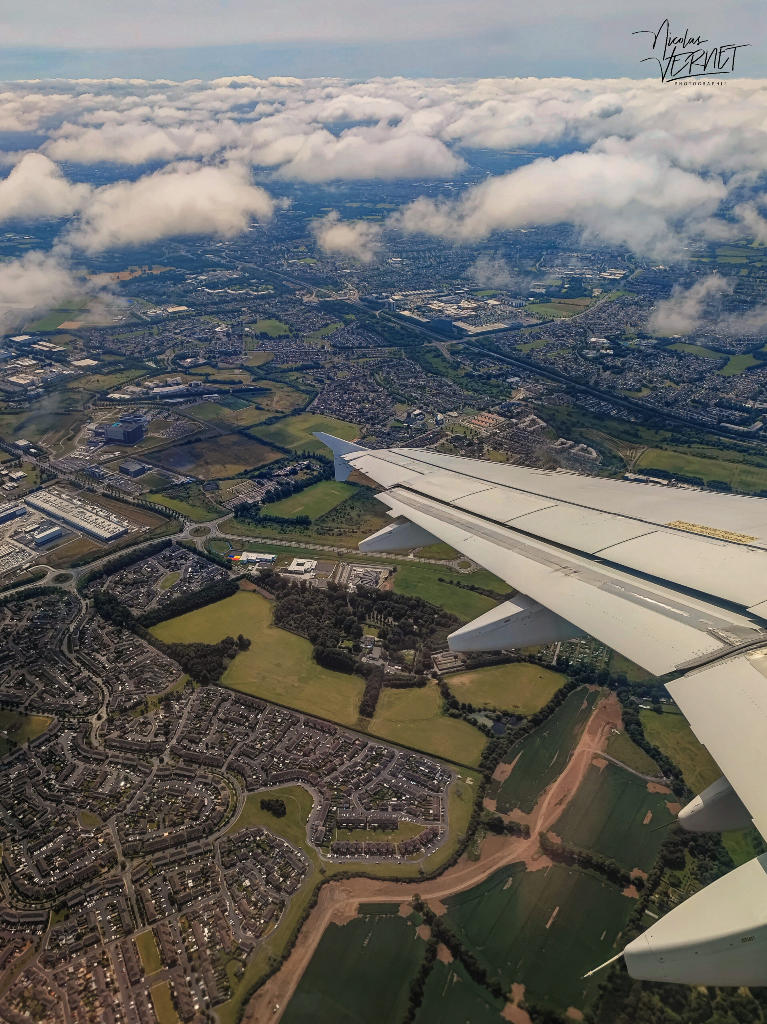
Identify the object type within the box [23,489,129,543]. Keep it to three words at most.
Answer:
building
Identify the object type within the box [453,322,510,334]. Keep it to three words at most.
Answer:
building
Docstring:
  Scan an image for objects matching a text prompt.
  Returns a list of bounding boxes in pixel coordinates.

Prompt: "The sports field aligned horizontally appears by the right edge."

[638,451,767,491]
